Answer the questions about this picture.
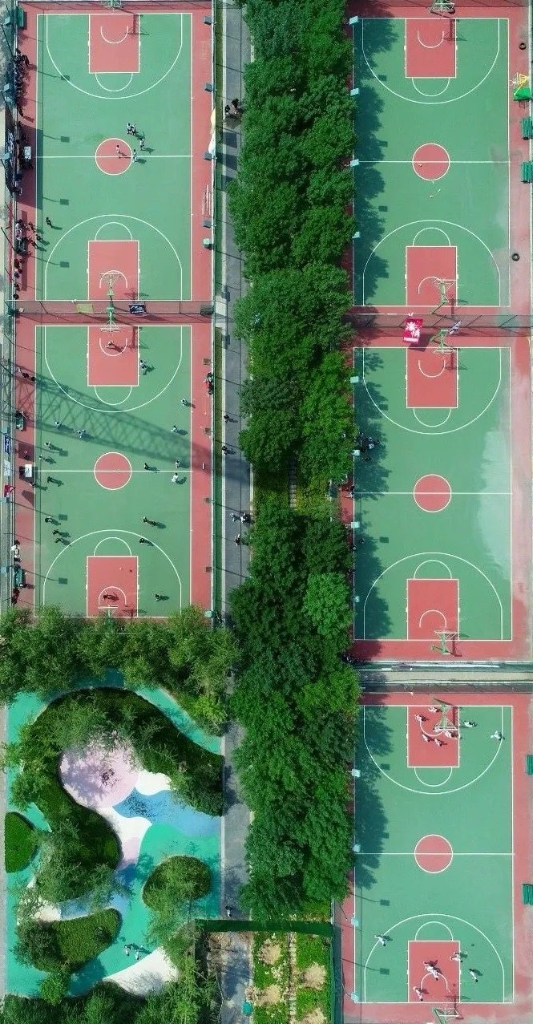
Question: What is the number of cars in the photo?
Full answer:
There are no cars in the image.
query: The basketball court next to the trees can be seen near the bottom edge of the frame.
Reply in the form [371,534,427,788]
[335,685,533,1024]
